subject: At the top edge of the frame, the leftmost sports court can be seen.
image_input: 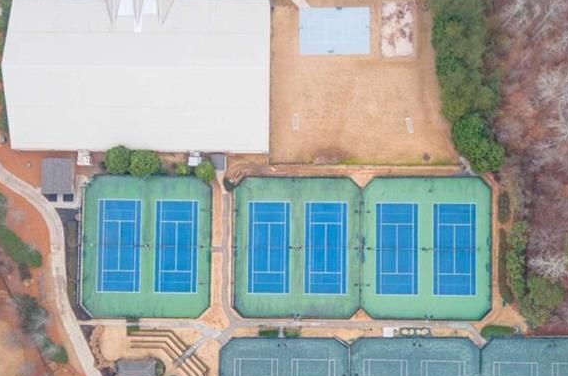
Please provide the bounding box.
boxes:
[299,7,370,55]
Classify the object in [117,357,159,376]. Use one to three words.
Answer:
building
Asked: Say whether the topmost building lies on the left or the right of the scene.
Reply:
left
